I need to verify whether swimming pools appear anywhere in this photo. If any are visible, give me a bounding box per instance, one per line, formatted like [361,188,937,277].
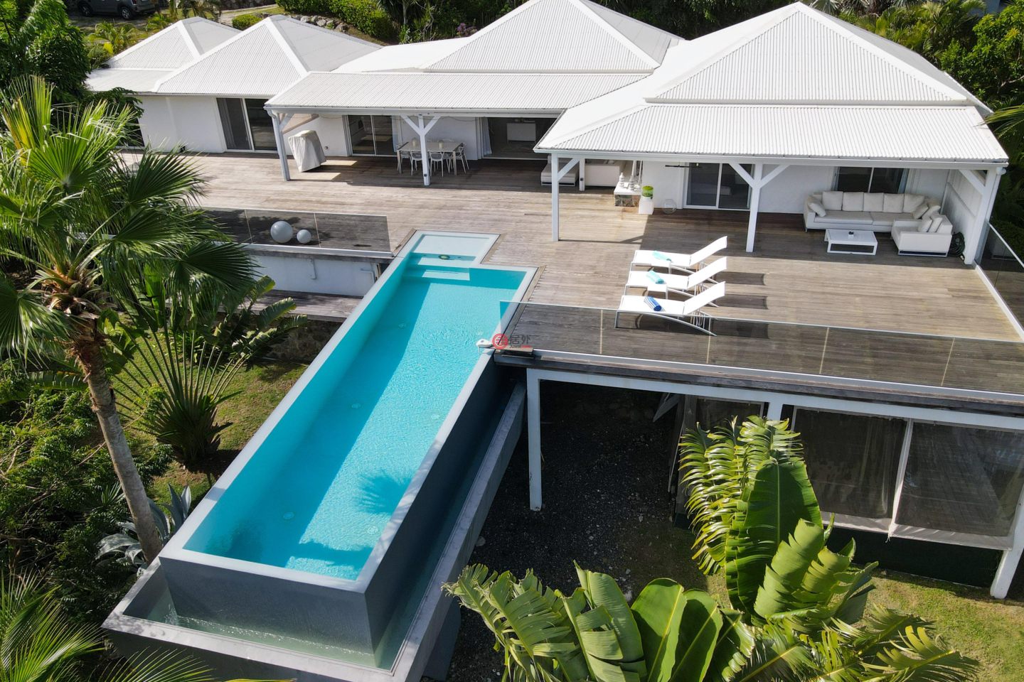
[102,231,538,682]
